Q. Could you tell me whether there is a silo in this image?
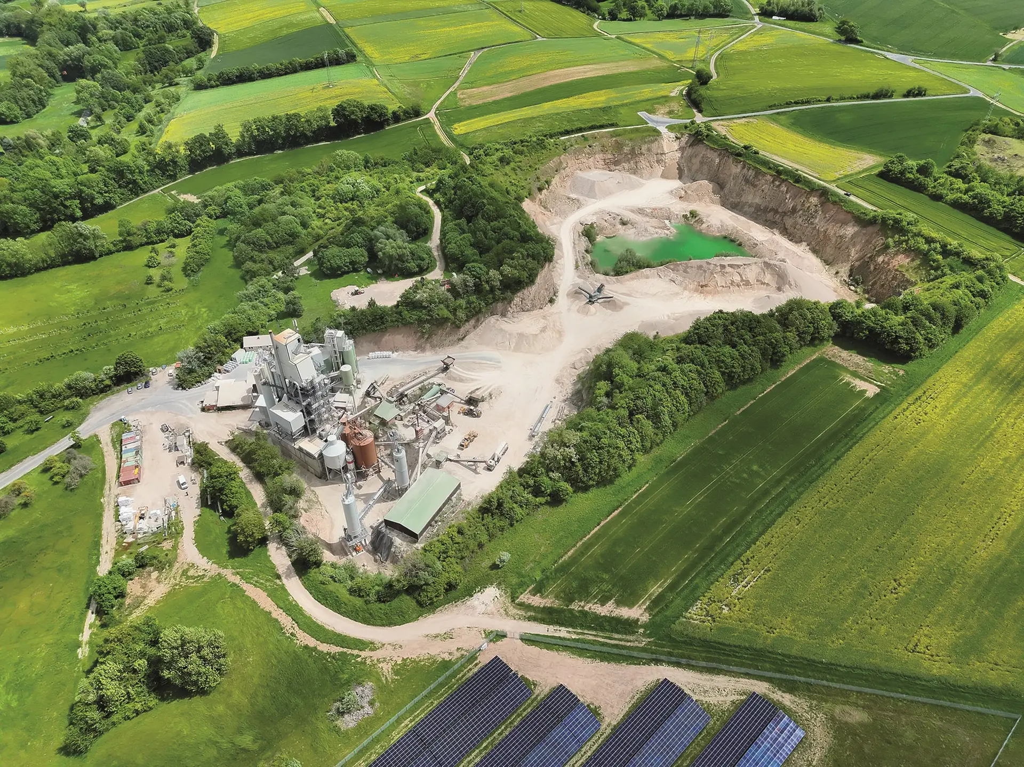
Yes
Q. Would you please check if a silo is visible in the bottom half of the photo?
Yes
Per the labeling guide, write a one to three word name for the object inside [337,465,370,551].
silo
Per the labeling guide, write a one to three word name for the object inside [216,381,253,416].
building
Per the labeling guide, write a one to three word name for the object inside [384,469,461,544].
building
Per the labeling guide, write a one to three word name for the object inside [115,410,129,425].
vehicle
